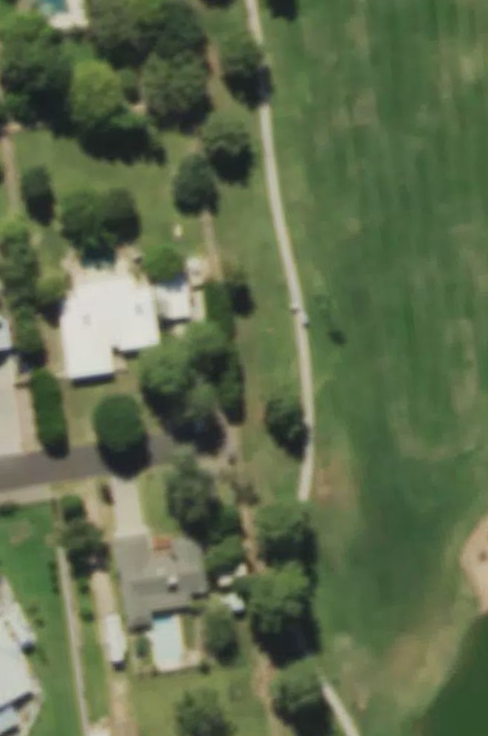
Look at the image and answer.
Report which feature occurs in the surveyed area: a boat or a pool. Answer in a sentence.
Of the two, only a pool appears.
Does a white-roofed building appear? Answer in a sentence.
Yes, a white-roofed building can be made out from above.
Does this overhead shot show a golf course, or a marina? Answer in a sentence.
The area seen from above is a golf course.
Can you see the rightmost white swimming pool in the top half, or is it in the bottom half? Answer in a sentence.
The bottom half of the photo is where the rightmost white swimming pool is.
